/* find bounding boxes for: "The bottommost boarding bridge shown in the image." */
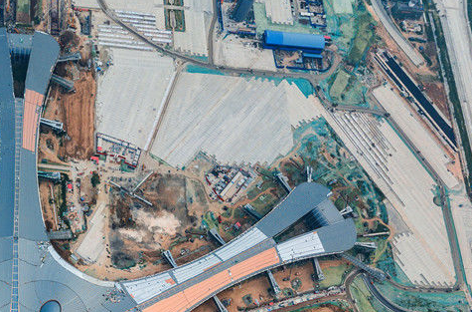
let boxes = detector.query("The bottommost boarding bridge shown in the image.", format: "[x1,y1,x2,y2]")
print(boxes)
[213,291,230,312]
